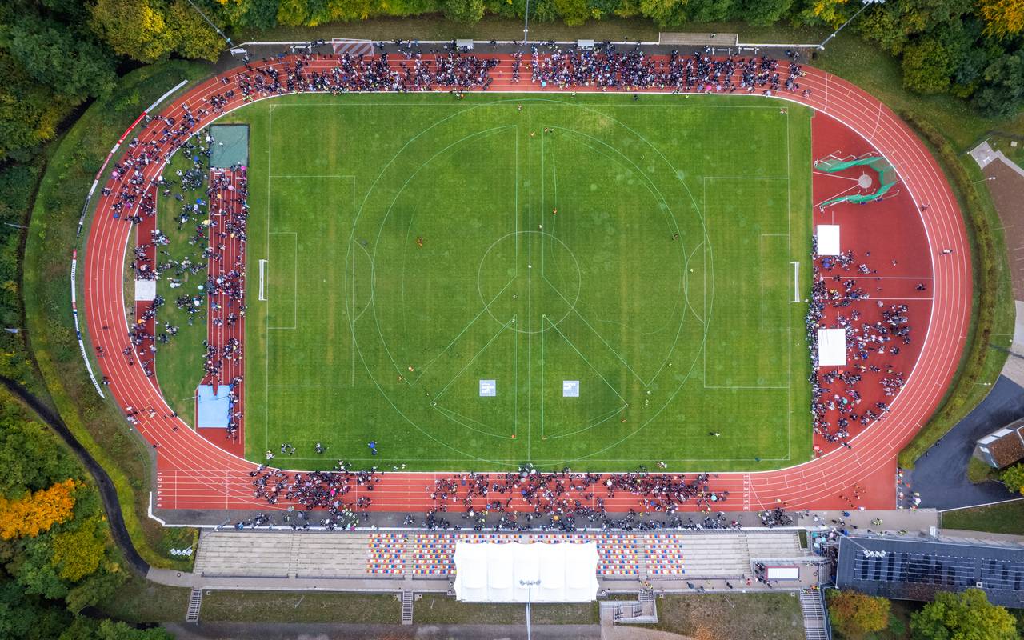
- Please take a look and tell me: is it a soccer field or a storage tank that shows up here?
soccer field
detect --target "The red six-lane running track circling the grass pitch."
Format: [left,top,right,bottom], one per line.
[83,54,972,512]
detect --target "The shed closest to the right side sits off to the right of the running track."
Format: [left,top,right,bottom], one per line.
[968,411,1024,468]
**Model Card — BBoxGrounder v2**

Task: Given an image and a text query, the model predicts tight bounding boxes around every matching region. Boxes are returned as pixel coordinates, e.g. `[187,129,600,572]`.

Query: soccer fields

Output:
[247,93,813,472]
